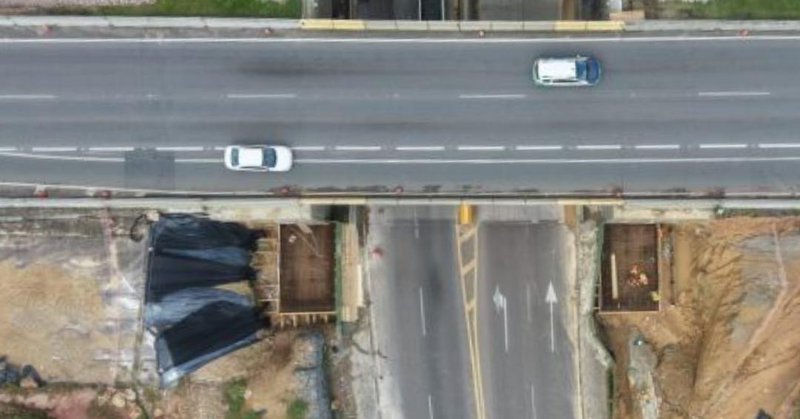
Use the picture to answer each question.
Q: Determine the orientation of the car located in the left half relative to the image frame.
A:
from side to side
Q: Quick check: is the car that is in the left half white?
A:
Yes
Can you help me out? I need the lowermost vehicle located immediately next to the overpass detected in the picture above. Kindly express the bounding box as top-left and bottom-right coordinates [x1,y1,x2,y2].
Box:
[223,142,291,174]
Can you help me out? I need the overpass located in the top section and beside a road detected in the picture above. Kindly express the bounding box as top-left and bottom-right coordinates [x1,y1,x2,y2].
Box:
[296,24,654,205]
